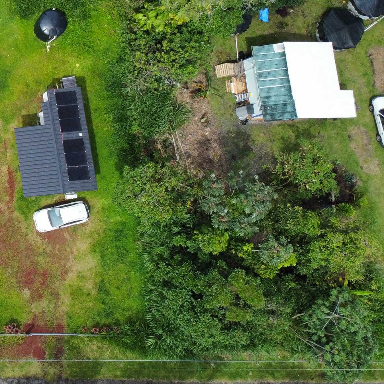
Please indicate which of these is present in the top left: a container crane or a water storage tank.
water storage tank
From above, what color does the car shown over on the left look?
white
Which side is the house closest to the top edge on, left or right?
right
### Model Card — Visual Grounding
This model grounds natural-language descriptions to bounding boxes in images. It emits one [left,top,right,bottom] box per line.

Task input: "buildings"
[14,88,98,197]
[239,40,358,122]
